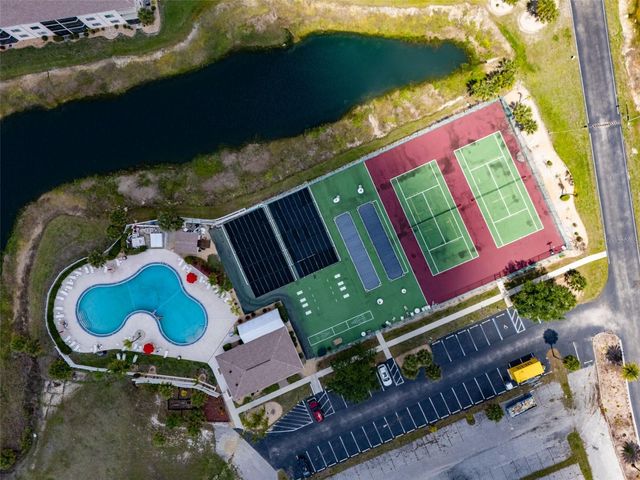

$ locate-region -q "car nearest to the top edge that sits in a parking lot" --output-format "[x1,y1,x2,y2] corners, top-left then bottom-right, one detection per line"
[378,364,392,388]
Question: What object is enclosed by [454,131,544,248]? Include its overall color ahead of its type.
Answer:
green tennis court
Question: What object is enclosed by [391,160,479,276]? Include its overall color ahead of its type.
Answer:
green tennis court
